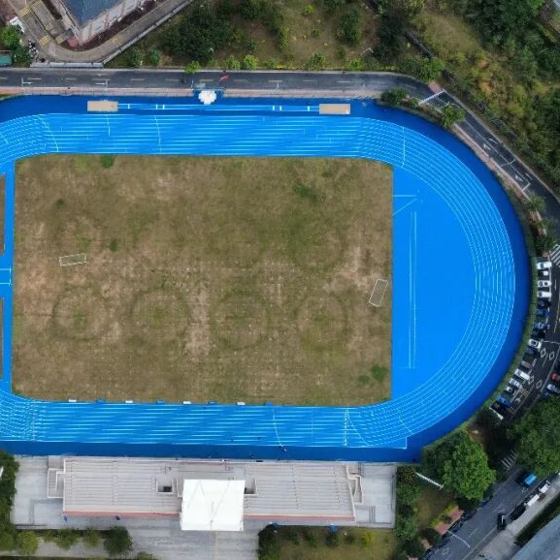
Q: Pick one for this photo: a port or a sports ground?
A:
sports ground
